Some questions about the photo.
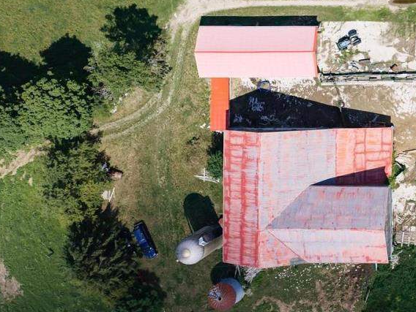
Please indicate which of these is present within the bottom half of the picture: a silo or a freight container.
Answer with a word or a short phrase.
silo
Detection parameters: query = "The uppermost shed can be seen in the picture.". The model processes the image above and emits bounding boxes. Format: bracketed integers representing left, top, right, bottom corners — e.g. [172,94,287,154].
[194,26,321,77]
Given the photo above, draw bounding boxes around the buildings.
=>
[223,127,393,271]
[194,26,321,77]
[209,78,233,126]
